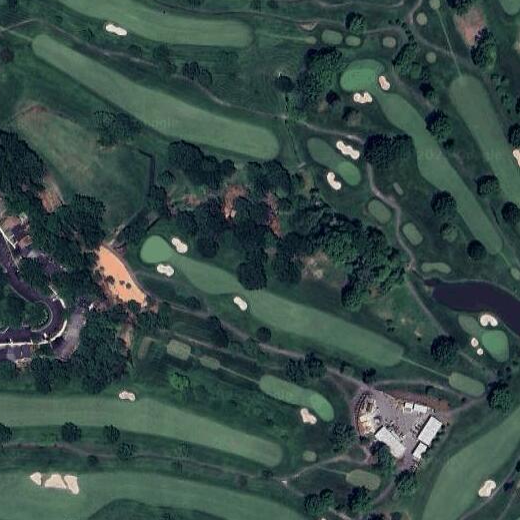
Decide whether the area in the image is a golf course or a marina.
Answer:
golf course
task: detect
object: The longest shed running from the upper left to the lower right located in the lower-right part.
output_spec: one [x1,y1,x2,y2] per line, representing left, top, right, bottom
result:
[375,426,408,458]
